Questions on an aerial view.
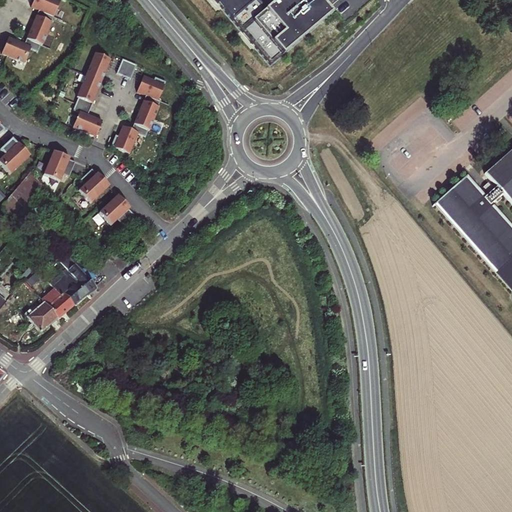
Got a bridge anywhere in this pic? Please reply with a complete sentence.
No, there's no bridge here.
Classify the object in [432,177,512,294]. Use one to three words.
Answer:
building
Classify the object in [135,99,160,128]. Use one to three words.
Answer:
house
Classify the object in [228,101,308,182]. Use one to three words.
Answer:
roundabout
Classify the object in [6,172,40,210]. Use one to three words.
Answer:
barn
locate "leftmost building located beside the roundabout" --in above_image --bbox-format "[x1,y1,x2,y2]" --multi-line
[208,0,334,64]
